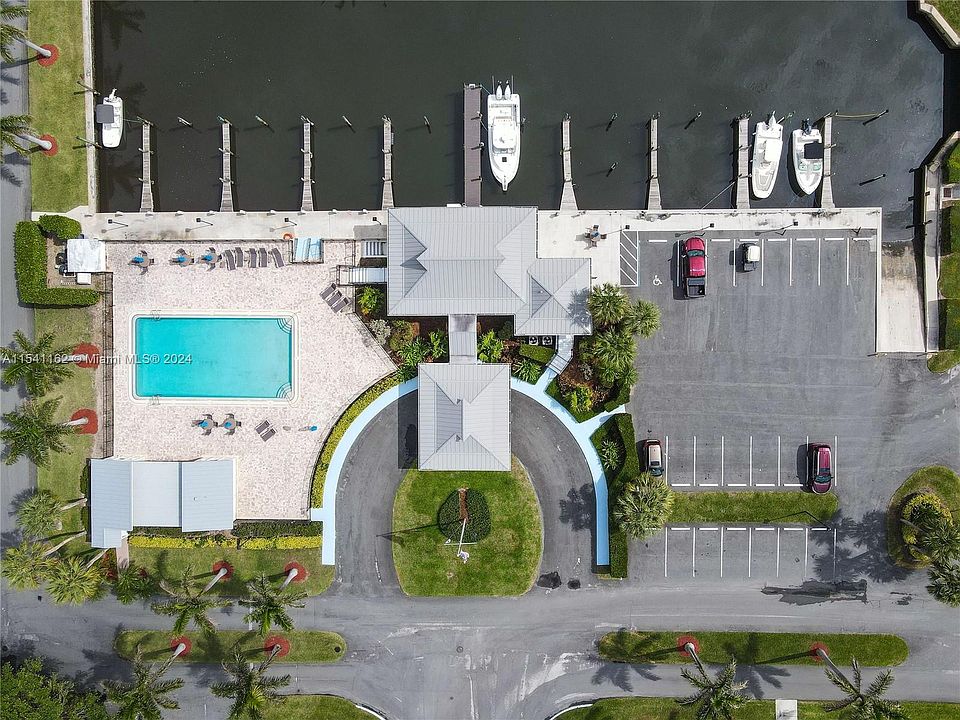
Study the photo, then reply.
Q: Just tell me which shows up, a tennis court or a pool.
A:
pool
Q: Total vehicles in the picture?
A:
4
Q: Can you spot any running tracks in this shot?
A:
No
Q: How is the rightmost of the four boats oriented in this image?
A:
vertically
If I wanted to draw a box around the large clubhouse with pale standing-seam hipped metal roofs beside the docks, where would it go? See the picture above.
[387,207,596,335]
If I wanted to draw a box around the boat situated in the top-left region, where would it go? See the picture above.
[91,88,125,150]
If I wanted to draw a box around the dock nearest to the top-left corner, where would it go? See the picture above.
[133,118,158,210]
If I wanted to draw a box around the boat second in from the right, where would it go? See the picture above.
[755,107,790,197]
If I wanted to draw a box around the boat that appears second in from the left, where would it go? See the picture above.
[487,79,520,193]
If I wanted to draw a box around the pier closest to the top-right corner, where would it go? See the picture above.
[817,112,844,210]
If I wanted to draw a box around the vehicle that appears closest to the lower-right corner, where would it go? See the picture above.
[808,444,835,493]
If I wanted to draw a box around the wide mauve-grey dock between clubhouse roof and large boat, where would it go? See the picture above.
[460,81,485,207]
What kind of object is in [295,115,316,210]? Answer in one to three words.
pier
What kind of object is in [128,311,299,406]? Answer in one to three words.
swimming pool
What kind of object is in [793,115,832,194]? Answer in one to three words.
boat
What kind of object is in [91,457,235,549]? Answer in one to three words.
building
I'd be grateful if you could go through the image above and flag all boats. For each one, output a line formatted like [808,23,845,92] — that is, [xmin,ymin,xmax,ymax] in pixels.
[755,107,790,197]
[793,115,832,194]
[91,88,125,150]
[487,79,520,193]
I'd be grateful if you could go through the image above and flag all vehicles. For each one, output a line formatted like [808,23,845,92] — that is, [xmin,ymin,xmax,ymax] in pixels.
[808,444,835,493]
[644,437,668,481]
[682,237,708,299]
[741,244,761,270]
